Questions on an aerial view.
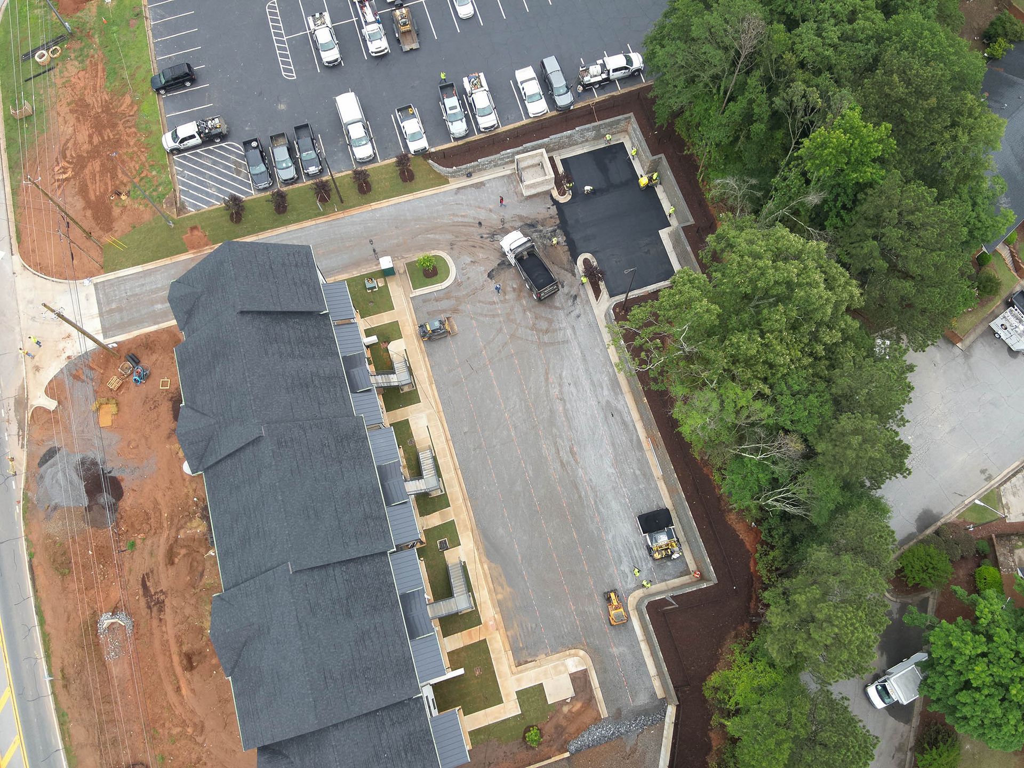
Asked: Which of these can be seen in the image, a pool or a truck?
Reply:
truck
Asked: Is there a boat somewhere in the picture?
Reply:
No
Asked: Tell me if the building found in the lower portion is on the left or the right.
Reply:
left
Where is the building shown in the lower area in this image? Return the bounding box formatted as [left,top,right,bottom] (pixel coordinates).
[160,236,481,768]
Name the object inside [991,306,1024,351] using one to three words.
trailer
